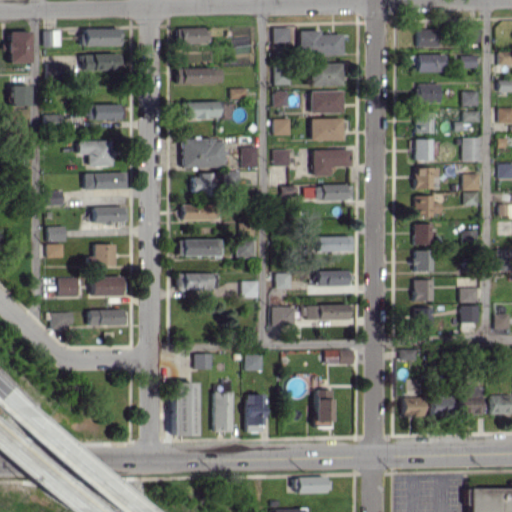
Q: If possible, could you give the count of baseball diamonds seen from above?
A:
none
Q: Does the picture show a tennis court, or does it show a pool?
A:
pool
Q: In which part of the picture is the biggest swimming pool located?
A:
bottom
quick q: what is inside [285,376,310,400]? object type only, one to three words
swimming pool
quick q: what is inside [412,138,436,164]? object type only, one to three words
house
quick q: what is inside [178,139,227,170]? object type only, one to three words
house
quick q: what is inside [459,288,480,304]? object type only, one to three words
building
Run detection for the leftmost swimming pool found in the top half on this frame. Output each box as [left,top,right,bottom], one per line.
[232,108,248,123]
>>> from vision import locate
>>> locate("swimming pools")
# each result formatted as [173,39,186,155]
[444,164,458,177]
[396,368,410,381]
[332,206,344,218]
[285,376,310,400]
[288,94,301,108]
[232,108,248,123]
